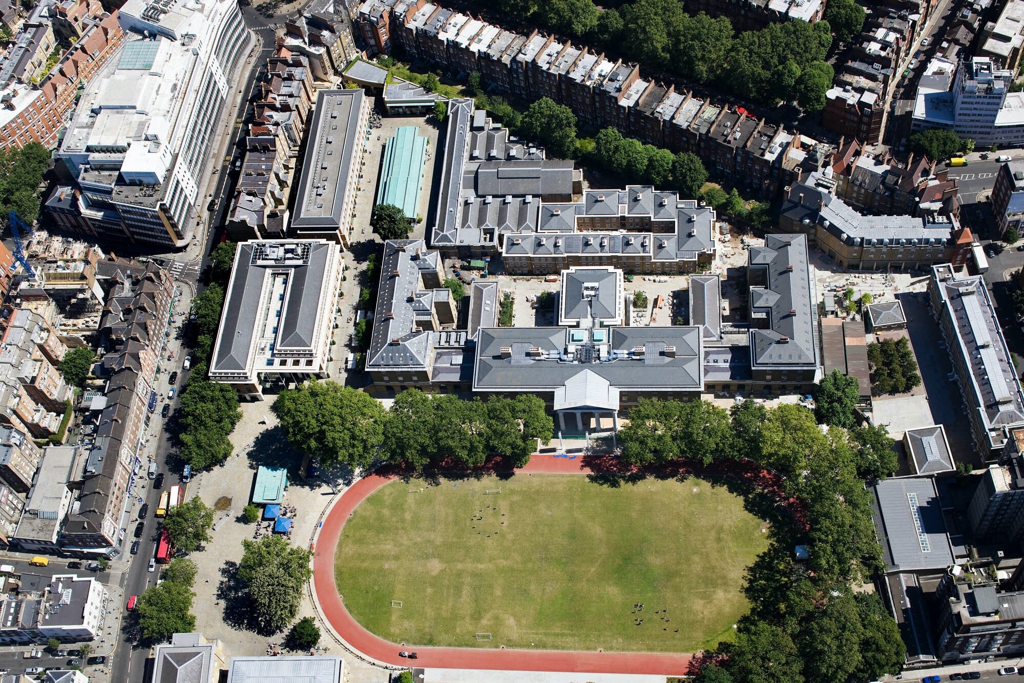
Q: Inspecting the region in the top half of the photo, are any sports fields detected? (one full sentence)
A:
No, no sports field can be made out in the top half of the photo.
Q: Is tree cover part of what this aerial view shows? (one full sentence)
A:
Yes, tree cover can be seen from above here.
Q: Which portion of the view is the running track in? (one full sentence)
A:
You can find the running track in the bottom area of the picture.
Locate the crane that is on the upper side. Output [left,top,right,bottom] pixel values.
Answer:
[8,211,52,280]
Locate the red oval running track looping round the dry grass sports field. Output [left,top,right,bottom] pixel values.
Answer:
[311,453,829,677]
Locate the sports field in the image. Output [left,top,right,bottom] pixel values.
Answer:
[334,473,808,653]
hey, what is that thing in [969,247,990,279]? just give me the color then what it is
white truck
